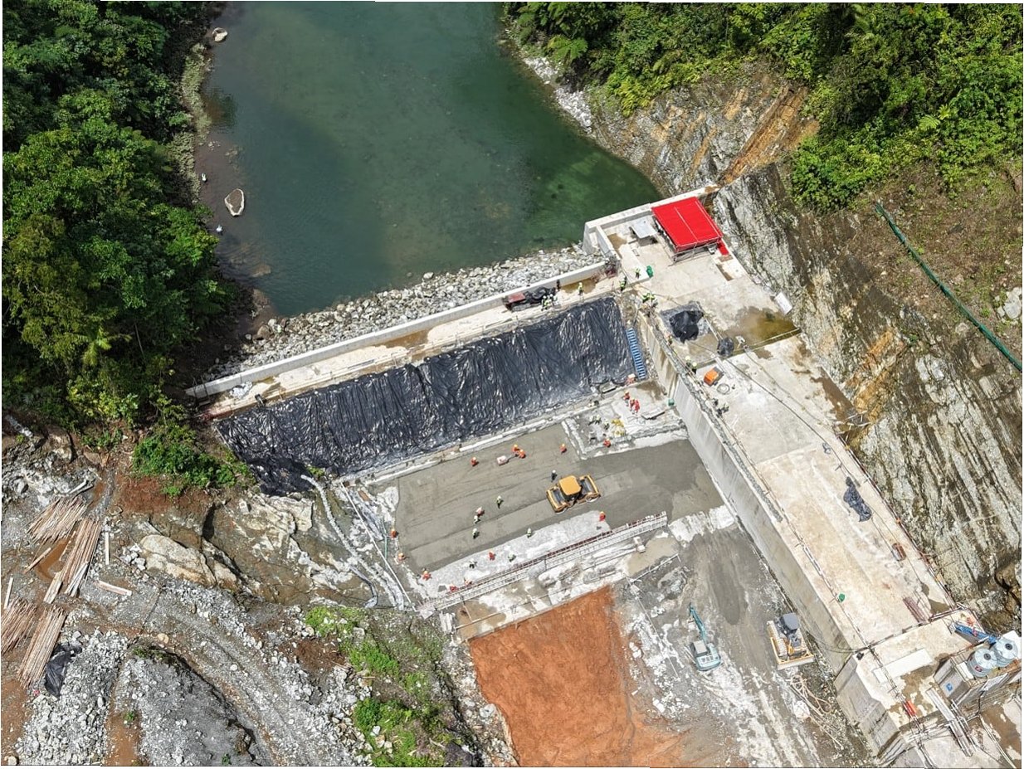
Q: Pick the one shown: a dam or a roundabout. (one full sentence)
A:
This aerial view contains a dam.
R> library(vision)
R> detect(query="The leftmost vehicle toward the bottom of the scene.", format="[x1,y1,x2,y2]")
[549,483,603,519]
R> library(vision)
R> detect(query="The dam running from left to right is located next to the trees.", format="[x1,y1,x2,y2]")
[196,263,657,501]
